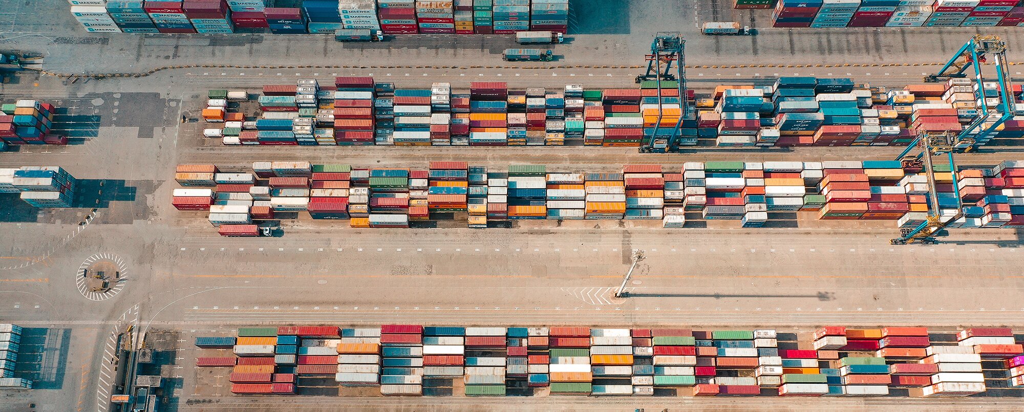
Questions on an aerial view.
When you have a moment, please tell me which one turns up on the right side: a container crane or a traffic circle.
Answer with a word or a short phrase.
container crane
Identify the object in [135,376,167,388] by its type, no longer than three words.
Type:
building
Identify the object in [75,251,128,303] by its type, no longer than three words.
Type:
roundabout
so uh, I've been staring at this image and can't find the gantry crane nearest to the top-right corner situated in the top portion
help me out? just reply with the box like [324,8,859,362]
[921,29,1014,155]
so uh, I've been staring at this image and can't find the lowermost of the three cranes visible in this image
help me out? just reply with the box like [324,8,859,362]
[883,124,965,249]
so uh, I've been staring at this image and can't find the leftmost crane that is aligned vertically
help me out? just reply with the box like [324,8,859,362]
[635,24,690,155]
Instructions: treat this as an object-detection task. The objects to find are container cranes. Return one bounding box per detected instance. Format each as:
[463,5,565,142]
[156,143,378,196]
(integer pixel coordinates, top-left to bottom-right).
[635,24,690,155]
[883,124,965,249]
[921,29,1014,155]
